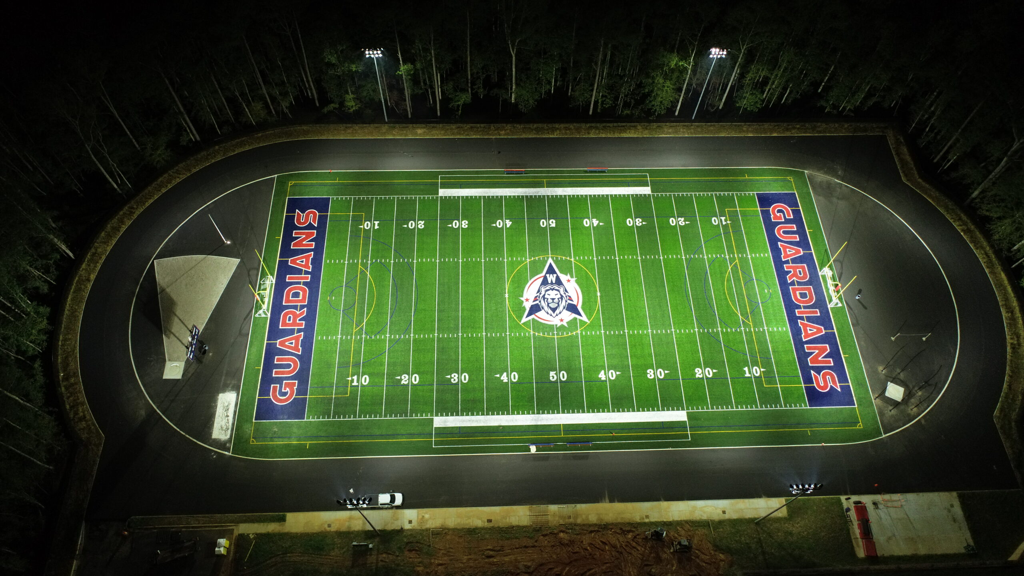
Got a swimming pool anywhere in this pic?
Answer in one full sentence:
No, no swimming pool can be seen from above.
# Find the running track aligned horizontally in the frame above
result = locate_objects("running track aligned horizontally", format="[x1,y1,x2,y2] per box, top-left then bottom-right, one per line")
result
[68,134,1021,576]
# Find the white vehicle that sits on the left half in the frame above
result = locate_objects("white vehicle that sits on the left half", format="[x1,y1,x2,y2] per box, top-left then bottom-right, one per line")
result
[366,492,405,508]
